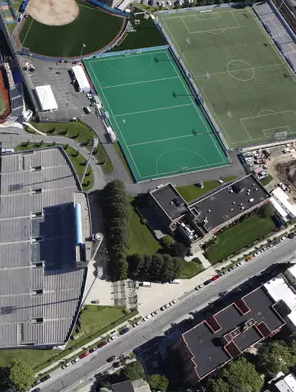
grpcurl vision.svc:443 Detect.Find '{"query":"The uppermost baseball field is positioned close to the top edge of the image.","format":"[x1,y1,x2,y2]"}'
[20,0,125,57]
